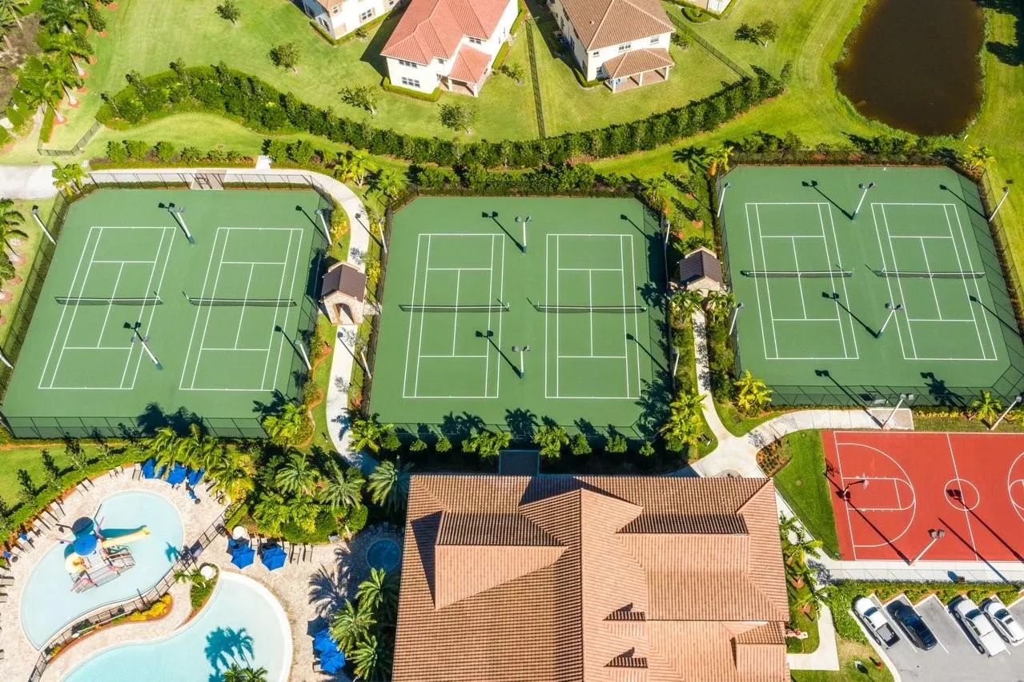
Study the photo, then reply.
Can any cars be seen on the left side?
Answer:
No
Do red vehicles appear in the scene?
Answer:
No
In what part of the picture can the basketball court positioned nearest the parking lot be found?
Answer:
bottom right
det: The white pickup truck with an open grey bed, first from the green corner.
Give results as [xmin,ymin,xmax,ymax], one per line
[853,598,905,652]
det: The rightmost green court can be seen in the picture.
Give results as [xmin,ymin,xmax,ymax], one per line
[842,166,1024,407]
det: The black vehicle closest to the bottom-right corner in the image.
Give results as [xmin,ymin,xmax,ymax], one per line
[885,601,936,652]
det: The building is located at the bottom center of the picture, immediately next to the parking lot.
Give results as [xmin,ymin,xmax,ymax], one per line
[393,472,793,682]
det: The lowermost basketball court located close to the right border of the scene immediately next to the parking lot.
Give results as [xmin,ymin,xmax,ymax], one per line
[822,430,1024,565]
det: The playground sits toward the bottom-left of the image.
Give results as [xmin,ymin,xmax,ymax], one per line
[57,520,151,594]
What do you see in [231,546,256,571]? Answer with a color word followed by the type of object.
blue umbrella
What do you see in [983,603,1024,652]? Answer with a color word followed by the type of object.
white car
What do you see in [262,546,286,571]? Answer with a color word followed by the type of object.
blue umbrella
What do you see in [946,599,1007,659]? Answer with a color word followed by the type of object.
white truck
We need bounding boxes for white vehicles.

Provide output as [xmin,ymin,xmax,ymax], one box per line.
[946,599,1007,659]
[983,603,1024,652]
[853,598,905,652]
